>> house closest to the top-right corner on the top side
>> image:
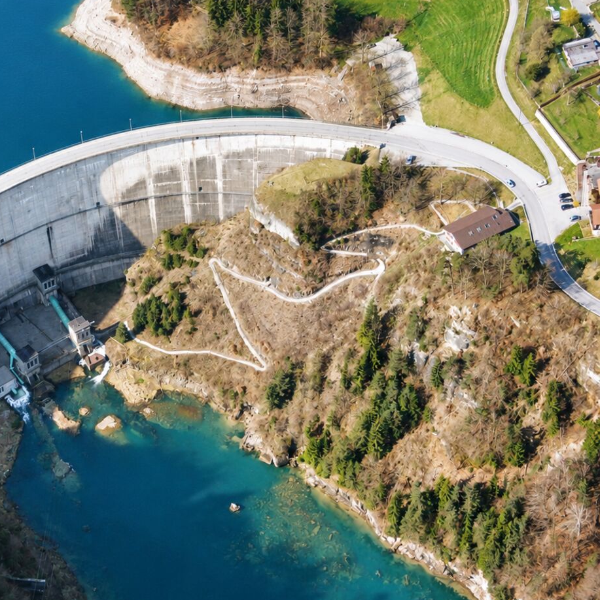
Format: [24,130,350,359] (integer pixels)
[559,35,600,79]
